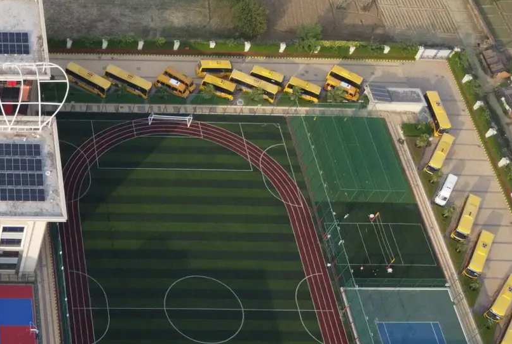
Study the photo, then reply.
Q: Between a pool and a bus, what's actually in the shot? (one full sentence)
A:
Of the two, only a bus appears.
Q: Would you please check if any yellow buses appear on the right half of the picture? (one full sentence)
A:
Yes, on the right half of the picture there is a yellow bus.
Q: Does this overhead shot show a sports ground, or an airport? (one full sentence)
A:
This looks like a sports ground.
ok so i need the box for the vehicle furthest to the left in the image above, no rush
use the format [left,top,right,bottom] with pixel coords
[57,60,118,100]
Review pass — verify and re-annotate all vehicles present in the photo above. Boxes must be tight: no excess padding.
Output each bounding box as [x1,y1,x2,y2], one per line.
[99,62,155,101]
[57,60,118,100]
[154,74,187,100]
[244,64,286,93]
[194,73,242,104]
[447,192,482,246]
[223,67,285,106]
[492,309,512,344]
[457,227,495,284]
[420,131,456,180]
[477,270,512,329]
[319,63,370,98]
[282,75,326,106]
[189,60,236,77]
[431,175,457,207]
[164,64,194,94]
[423,87,454,138]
